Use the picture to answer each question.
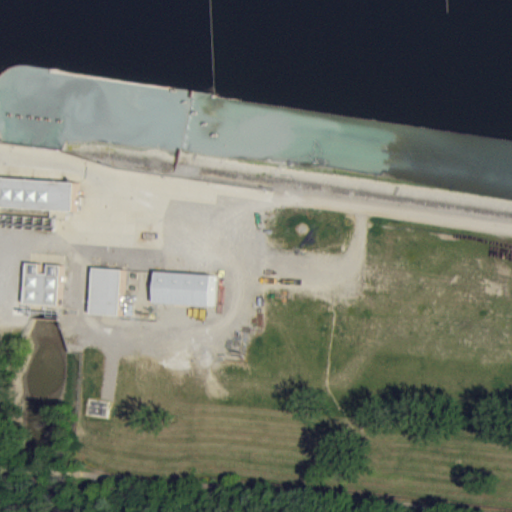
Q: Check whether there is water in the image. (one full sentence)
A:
Yes, the picture does contain water.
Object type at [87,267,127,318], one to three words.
building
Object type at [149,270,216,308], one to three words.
shed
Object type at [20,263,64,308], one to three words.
house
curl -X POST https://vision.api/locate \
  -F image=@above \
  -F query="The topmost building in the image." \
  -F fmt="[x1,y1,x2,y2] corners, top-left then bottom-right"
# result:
[0,178,78,213]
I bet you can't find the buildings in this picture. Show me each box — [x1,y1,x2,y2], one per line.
[149,270,216,308]
[87,267,127,318]
[20,263,64,308]
[0,178,78,213]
